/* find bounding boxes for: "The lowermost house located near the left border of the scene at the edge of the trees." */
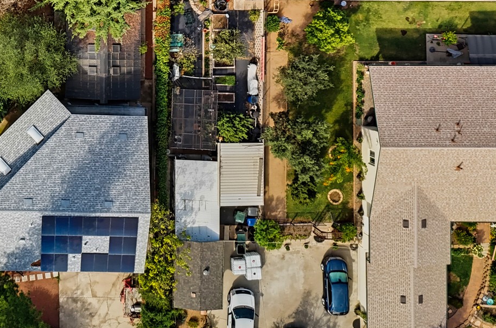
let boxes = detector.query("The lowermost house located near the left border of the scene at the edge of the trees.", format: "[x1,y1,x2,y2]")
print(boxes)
[0,92,151,273]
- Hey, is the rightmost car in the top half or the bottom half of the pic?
bottom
